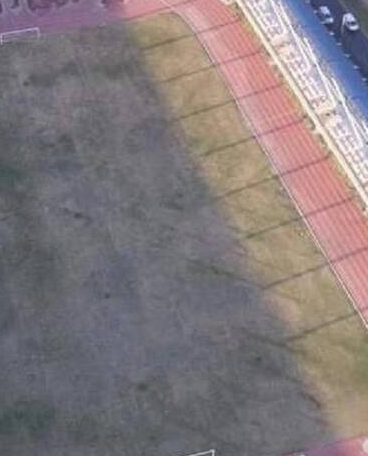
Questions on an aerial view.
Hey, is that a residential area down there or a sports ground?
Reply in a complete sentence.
This looks like a sports ground.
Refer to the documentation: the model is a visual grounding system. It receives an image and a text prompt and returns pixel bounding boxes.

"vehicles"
[320,7,334,22]
[342,13,358,28]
